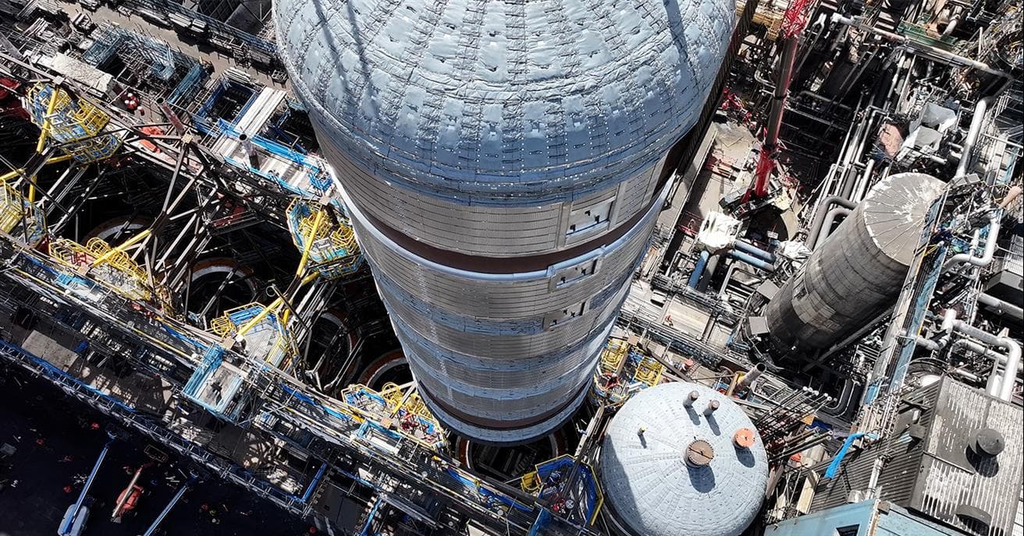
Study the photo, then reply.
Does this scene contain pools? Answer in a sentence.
No, I find no pool anywhere in the image.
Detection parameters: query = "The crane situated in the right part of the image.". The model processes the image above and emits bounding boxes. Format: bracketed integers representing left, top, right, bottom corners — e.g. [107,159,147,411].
[689,0,815,234]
